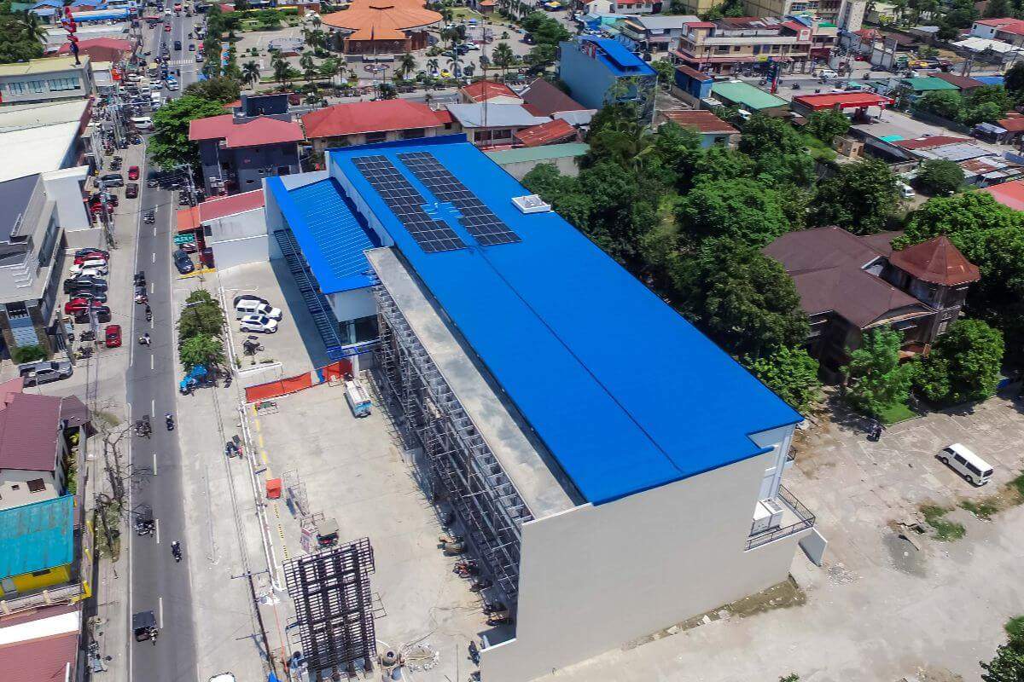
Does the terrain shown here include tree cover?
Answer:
Yes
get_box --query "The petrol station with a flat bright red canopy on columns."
[789,88,894,133]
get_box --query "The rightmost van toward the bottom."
[936,448,994,485]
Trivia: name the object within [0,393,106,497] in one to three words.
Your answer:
house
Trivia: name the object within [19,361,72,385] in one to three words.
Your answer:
truck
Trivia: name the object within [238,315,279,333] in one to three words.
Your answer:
car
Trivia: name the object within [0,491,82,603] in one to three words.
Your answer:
house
